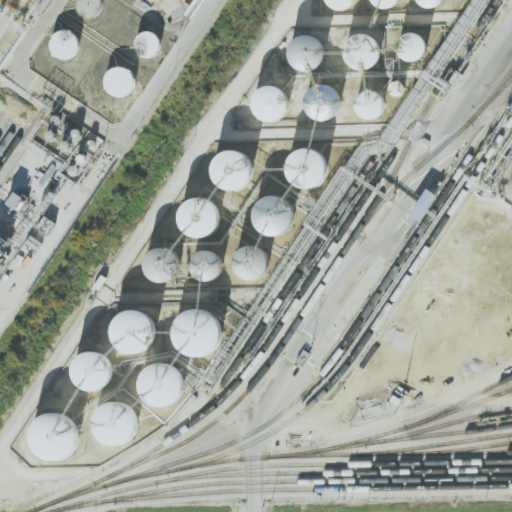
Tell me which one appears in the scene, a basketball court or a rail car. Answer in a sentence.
Of the two, only a rail car appears.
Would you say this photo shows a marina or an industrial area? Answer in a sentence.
This image shows an industrial area.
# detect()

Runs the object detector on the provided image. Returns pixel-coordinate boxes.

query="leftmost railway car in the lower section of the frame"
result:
[164,426,189,446]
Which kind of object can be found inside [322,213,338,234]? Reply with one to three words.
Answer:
rail car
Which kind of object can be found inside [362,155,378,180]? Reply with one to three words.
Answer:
rail car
